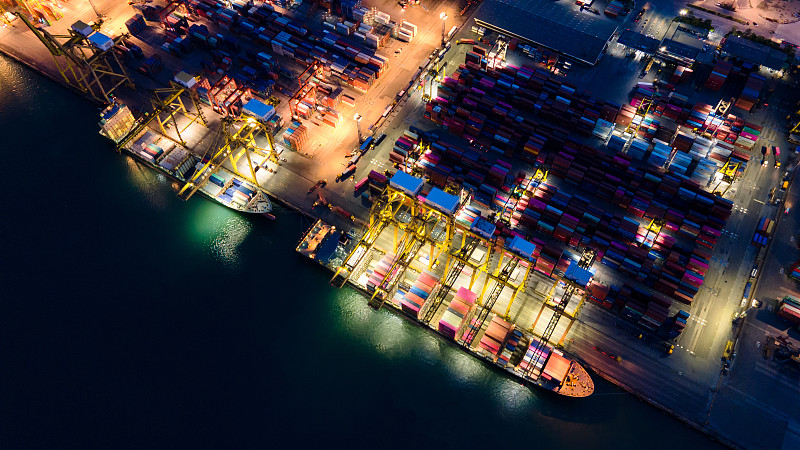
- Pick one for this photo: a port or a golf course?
port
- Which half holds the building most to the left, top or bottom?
top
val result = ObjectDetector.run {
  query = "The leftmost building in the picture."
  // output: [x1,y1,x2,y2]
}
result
[473,0,640,73]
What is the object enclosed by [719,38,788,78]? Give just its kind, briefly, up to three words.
shed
